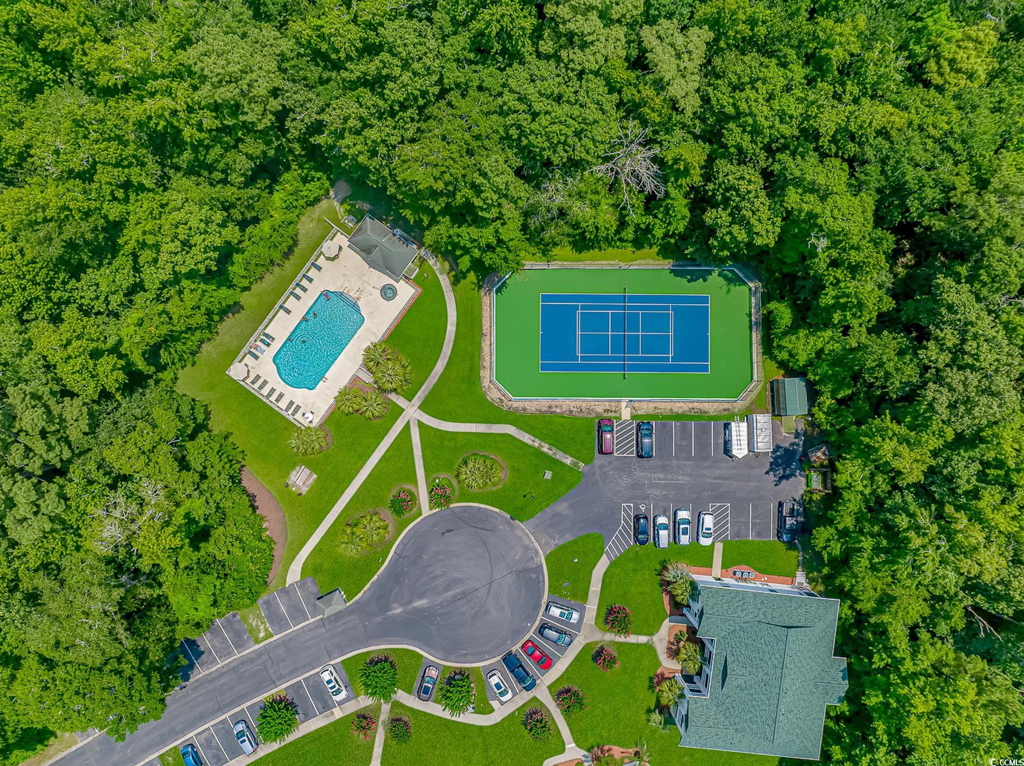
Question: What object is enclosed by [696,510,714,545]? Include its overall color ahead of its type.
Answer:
white car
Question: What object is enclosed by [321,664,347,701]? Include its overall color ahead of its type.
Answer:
white car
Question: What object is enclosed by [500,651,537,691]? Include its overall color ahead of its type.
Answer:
blue truck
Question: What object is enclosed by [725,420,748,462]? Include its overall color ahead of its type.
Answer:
white trailer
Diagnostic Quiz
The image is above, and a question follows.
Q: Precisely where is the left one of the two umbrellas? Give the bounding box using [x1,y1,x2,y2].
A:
[229,363,247,380]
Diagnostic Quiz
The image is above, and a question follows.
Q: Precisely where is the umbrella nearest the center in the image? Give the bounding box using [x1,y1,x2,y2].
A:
[322,240,339,257]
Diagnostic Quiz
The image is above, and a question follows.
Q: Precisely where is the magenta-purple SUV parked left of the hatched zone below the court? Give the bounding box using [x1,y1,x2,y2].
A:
[597,418,613,455]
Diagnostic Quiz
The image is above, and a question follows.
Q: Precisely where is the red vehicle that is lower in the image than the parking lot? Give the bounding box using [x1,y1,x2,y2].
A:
[520,639,554,669]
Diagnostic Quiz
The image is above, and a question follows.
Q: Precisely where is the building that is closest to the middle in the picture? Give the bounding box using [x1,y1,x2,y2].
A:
[348,214,419,279]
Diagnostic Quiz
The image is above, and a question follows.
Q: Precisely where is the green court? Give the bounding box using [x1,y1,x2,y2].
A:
[495,268,755,399]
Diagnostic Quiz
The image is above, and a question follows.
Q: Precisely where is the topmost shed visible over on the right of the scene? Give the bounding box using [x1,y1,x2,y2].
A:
[771,378,806,430]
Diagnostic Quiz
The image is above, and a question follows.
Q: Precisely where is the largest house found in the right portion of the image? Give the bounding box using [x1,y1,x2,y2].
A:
[671,576,849,762]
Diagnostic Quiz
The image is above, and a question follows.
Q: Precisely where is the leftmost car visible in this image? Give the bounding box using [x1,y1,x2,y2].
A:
[179,739,205,766]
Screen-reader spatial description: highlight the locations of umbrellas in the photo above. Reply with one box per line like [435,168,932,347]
[229,363,247,380]
[322,240,339,257]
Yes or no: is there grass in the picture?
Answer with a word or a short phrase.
Yes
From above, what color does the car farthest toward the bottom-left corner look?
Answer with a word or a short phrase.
blue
